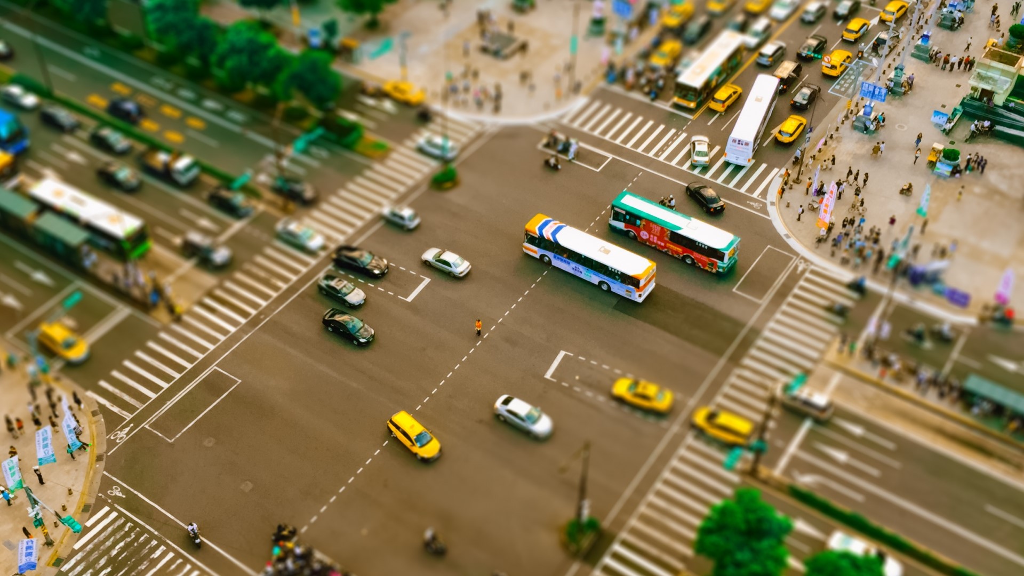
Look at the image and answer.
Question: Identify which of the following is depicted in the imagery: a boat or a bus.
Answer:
bus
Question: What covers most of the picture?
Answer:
paved ground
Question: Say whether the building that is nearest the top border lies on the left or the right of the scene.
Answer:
right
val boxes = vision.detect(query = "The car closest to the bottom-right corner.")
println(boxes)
[828,527,912,576]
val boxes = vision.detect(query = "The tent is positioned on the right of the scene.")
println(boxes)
[903,251,942,292]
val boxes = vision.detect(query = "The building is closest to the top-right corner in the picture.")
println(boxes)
[959,42,1024,113]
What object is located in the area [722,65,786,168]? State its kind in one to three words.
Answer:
bus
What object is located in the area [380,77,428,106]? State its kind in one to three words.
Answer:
car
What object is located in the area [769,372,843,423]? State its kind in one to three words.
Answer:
vehicle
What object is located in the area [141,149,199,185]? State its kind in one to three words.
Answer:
truck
